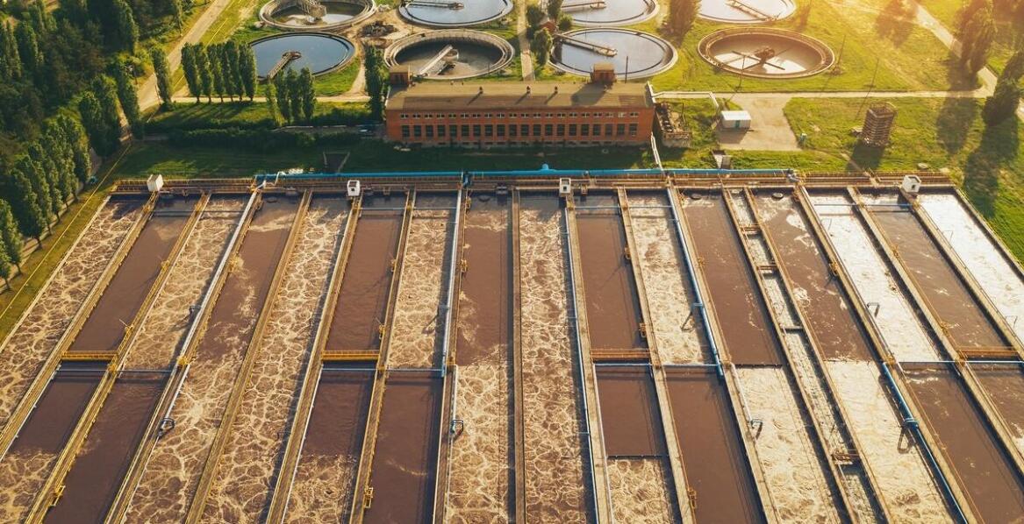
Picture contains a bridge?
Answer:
Yes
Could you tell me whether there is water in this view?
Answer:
Yes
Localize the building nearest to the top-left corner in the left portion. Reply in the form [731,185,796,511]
[143,173,163,196]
